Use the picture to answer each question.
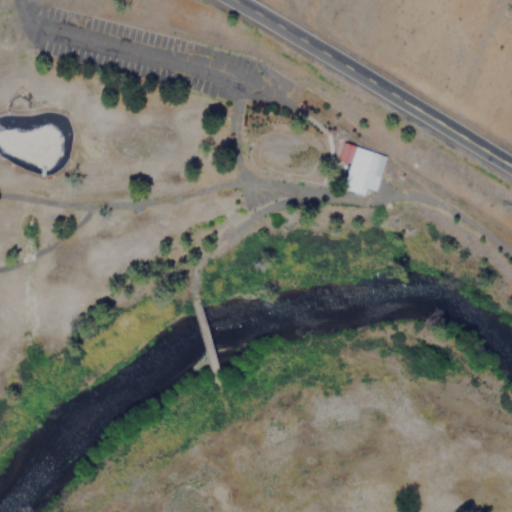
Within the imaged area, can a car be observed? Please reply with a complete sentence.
No, this view has no car in it.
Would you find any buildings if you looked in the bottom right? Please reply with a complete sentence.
No, the scene shows no building in the bottom right.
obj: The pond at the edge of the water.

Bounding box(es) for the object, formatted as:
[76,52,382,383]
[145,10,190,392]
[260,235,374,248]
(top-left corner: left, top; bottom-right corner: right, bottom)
[0,112,73,175]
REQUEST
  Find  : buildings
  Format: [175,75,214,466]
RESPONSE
[340,142,388,195]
